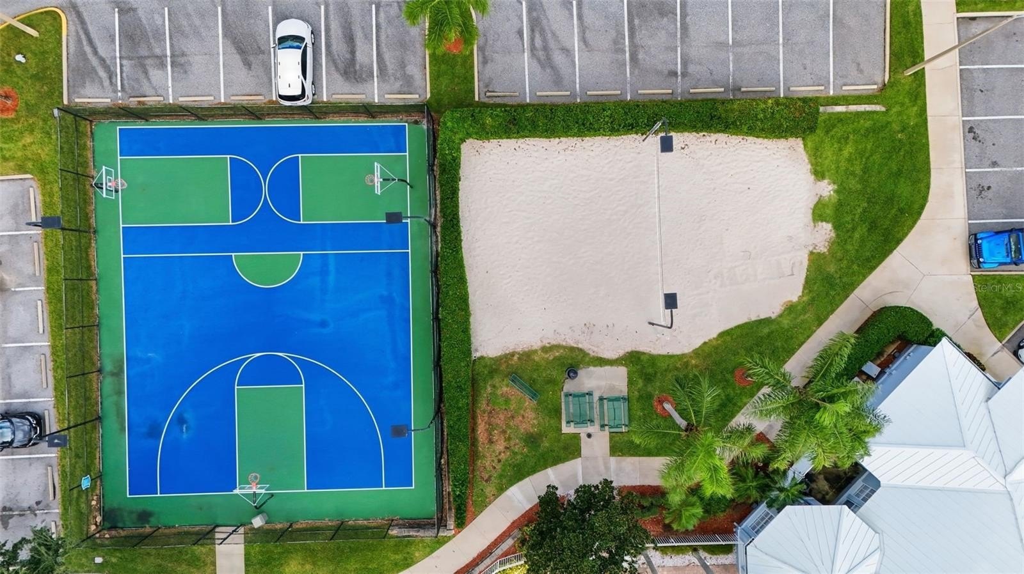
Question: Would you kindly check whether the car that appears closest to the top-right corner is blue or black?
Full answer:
The color of the car that appears closest to the top-right corner is blue.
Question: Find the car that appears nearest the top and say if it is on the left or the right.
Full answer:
The car that appears nearest the top sits on the left side.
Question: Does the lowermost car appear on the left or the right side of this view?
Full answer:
The lowermost car sits on the left side.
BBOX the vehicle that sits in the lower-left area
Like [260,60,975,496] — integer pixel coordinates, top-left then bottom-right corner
[0,410,45,456]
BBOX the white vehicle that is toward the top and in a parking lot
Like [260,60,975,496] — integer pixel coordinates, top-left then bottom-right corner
[267,19,314,105]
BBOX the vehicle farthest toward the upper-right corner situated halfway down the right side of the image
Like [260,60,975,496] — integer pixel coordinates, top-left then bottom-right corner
[967,227,1024,270]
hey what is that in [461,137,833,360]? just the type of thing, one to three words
sports court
